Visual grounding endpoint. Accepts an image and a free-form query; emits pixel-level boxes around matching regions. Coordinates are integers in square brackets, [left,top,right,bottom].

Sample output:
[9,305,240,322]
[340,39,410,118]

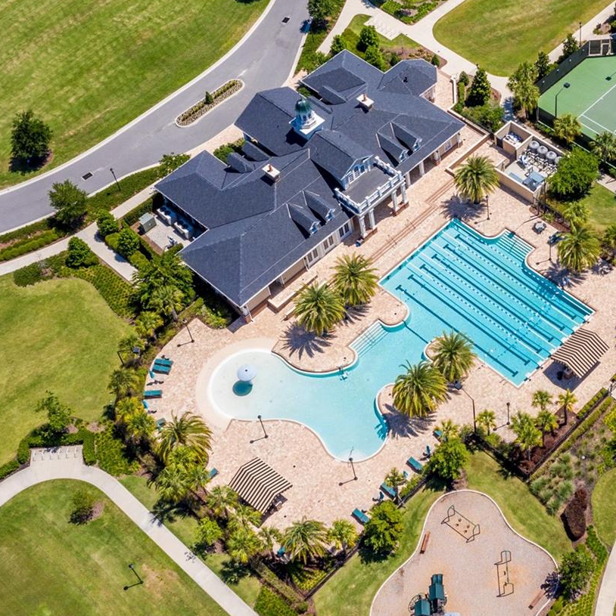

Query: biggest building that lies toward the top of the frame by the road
[153,48,466,323]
